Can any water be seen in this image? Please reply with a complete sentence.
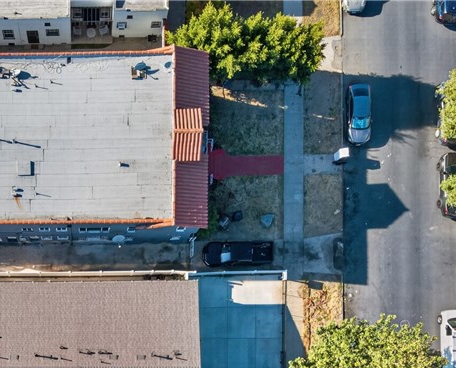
No, the picture contains no water.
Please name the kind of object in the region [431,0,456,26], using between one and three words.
car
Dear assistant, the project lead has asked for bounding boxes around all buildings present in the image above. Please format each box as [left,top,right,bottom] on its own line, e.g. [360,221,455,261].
[0,36,218,246]
[0,278,203,368]
[0,0,167,45]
